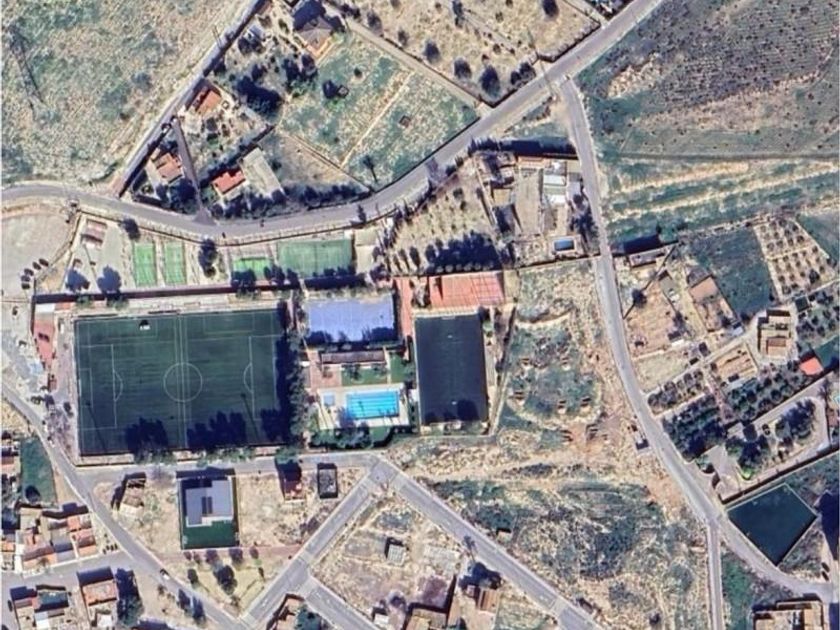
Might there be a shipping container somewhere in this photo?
No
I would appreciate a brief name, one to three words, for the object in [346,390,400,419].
swimming pool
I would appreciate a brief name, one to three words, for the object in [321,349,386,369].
building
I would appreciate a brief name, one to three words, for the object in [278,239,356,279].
tennis court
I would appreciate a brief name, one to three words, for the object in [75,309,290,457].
soccer field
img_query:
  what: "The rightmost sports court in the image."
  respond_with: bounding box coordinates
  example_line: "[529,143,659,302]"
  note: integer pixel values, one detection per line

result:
[430,272,505,308]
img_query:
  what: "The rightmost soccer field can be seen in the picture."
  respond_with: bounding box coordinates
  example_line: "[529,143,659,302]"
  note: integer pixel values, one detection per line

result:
[416,314,488,425]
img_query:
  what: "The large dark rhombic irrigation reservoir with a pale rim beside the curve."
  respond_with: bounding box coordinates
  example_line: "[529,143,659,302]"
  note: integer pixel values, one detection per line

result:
[726,484,818,562]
